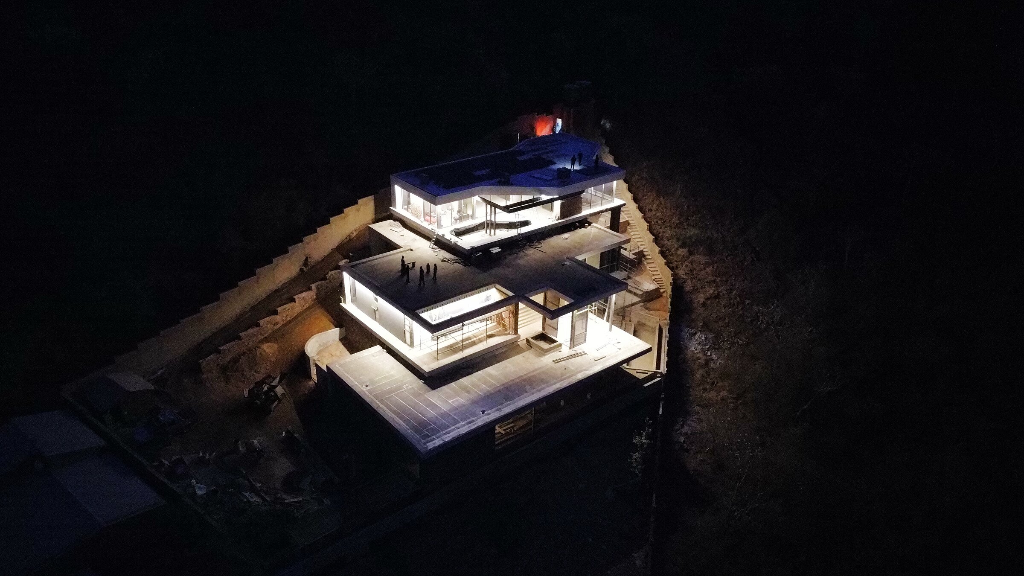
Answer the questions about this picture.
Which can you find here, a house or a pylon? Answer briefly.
house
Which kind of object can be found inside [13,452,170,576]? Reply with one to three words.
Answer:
house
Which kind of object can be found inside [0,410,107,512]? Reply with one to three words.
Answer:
house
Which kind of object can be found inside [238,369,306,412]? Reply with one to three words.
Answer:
work vehicle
